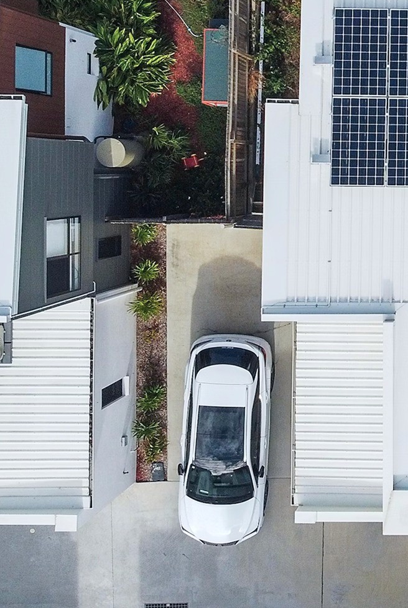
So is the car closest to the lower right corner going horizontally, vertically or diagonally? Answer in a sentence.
I'd say the car closest to the lower right corner is aligned vertically in the picture.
